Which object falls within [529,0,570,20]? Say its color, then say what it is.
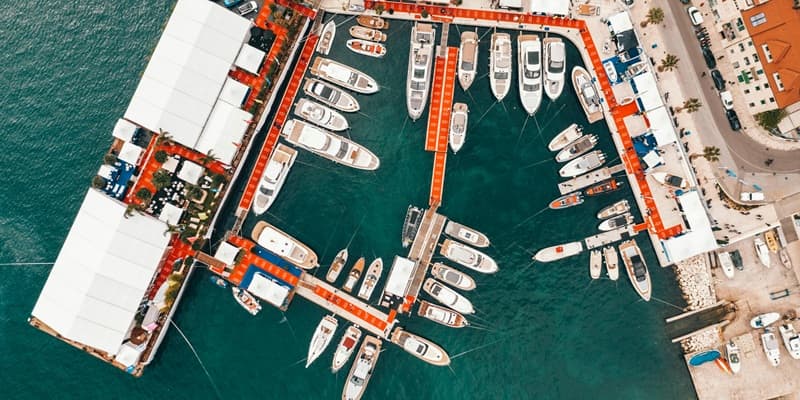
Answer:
white tent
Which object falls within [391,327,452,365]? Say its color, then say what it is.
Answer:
white boat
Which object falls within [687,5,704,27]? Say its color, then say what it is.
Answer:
white car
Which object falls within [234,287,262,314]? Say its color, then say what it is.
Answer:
white boat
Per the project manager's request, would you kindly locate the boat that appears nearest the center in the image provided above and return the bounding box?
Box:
[402,207,423,246]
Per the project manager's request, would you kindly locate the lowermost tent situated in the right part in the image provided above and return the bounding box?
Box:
[658,231,719,262]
